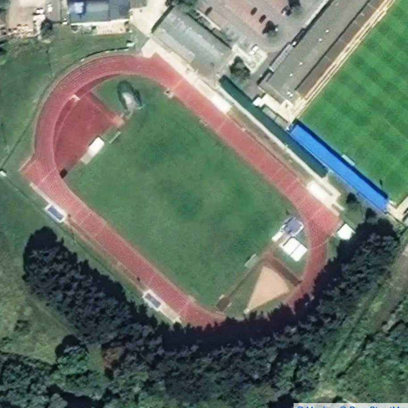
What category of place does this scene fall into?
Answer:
sports ground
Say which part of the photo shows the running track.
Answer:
center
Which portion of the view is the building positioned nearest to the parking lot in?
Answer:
top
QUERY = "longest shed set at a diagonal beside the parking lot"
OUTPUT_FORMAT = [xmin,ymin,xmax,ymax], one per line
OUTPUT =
[220,75,327,178]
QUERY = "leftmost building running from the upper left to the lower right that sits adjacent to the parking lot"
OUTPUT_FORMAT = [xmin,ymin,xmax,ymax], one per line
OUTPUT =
[155,4,233,73]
